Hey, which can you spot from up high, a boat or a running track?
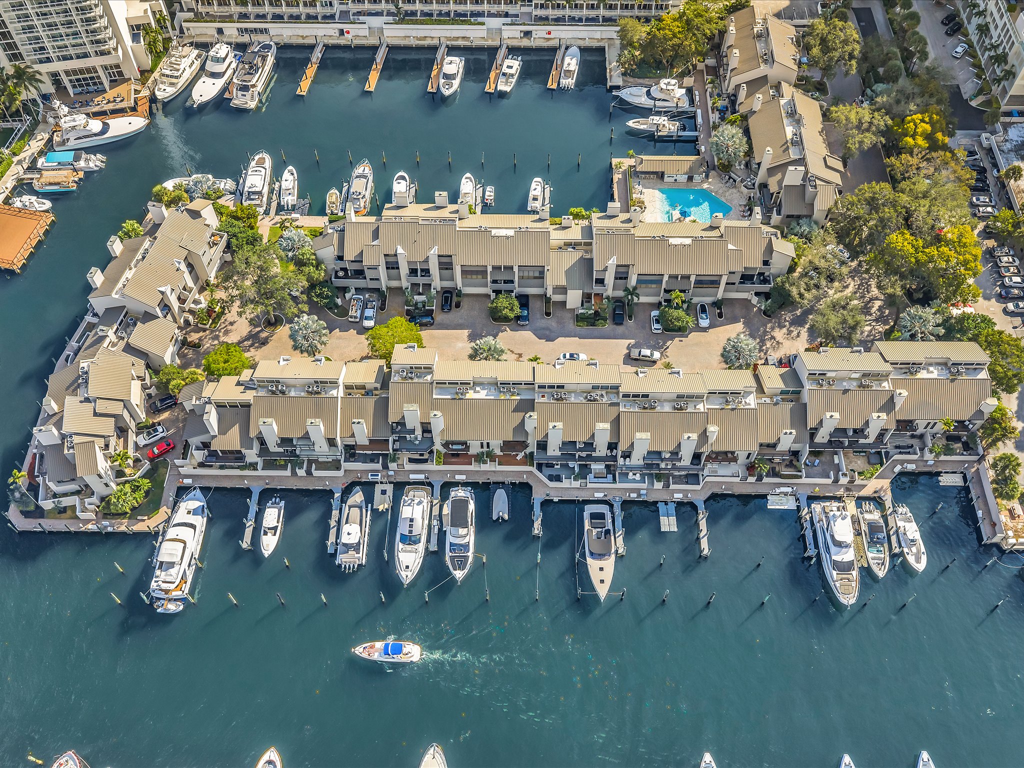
boat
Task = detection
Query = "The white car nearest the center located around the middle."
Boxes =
[561,351,586,363]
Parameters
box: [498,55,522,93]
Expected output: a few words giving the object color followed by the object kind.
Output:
white boat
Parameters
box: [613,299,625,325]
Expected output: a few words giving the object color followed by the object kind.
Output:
black vehicle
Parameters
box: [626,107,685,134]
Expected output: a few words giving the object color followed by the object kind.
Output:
white boat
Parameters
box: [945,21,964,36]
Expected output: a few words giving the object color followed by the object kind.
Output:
black car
